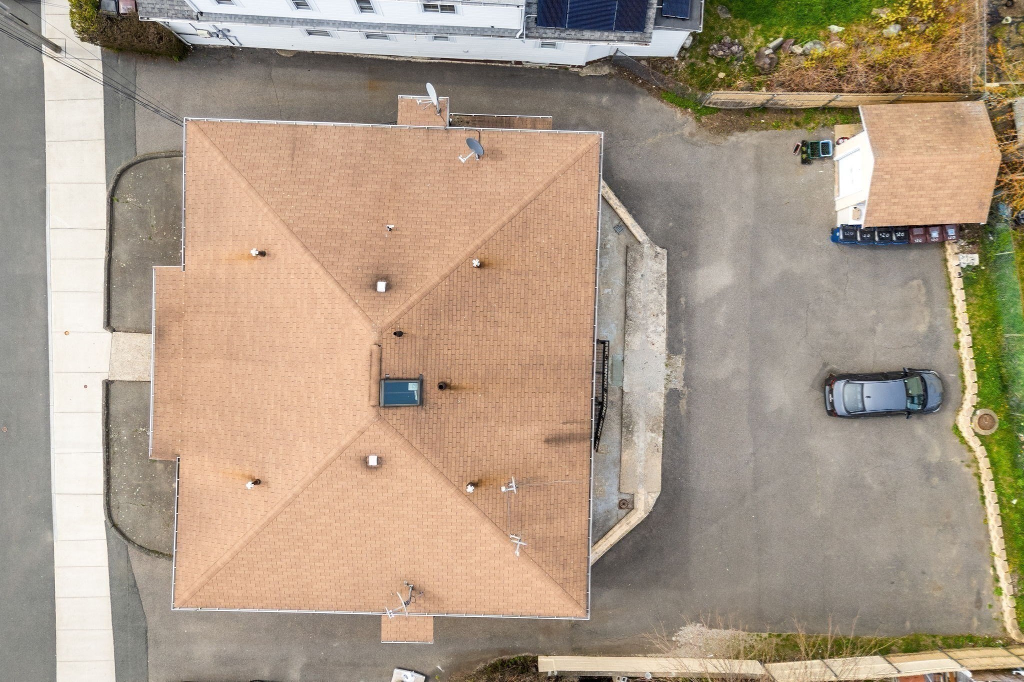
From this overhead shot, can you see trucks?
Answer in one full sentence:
No, I can see no truck in this picture.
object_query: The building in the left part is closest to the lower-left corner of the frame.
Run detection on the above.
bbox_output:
[148,96,603,641]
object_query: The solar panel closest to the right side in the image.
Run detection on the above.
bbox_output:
[662,0,690,20]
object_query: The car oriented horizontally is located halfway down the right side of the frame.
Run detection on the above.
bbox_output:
[823,365,943,422]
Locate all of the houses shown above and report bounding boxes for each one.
[138,0,707,69]
[148,96,603,641]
